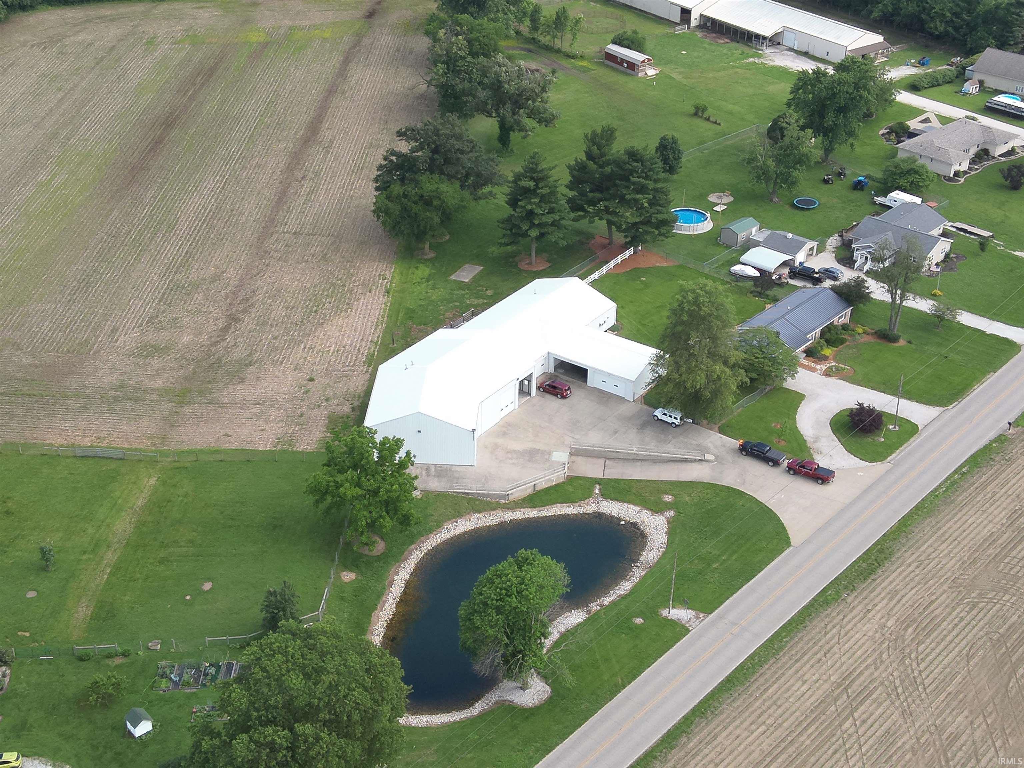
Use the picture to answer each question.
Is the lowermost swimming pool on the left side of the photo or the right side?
right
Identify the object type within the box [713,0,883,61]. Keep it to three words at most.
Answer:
barn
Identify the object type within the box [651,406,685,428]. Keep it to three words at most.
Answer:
car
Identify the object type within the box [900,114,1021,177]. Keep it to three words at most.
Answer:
house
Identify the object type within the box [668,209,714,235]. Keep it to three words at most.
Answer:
swimming pool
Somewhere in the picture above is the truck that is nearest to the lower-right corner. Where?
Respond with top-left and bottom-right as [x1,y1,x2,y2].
[783,458,838,485]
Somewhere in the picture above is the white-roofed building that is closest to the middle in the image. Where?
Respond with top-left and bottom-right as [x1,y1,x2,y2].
[362,275,669,466]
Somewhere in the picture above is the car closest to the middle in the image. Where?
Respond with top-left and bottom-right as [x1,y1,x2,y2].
[535,378,574,399]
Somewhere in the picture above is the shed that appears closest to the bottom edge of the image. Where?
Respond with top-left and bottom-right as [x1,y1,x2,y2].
[125,706,153,736]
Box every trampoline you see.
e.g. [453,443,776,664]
[793,197,820,212]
